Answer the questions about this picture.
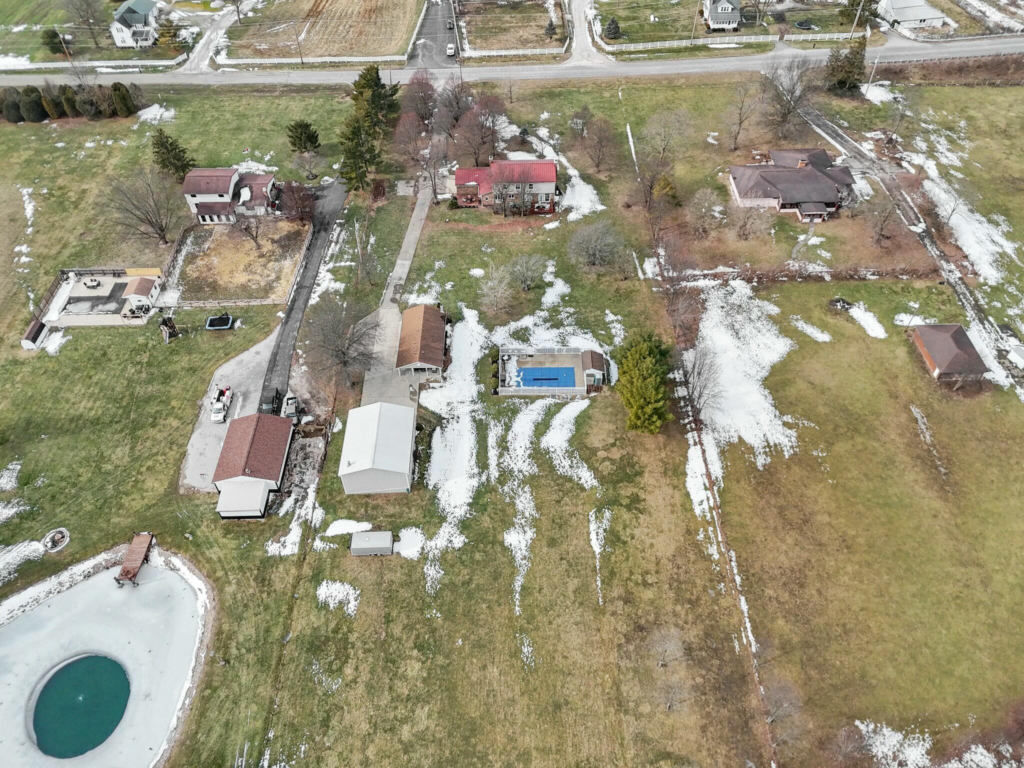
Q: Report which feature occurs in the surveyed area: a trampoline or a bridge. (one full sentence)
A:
The one in the frame is a trampoline.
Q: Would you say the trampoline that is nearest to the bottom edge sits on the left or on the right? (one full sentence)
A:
The trampoline that is nearest to the bottom edge is on the left side of the image.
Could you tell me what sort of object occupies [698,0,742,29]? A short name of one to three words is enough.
house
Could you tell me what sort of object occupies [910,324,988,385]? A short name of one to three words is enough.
building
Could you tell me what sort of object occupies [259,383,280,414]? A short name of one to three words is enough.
truck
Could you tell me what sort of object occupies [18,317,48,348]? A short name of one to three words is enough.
shed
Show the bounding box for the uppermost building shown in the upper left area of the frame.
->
[109,0,191,47]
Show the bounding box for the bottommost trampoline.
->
[197,303,234,330]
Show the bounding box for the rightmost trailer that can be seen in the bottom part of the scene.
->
[343,529,394,554]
